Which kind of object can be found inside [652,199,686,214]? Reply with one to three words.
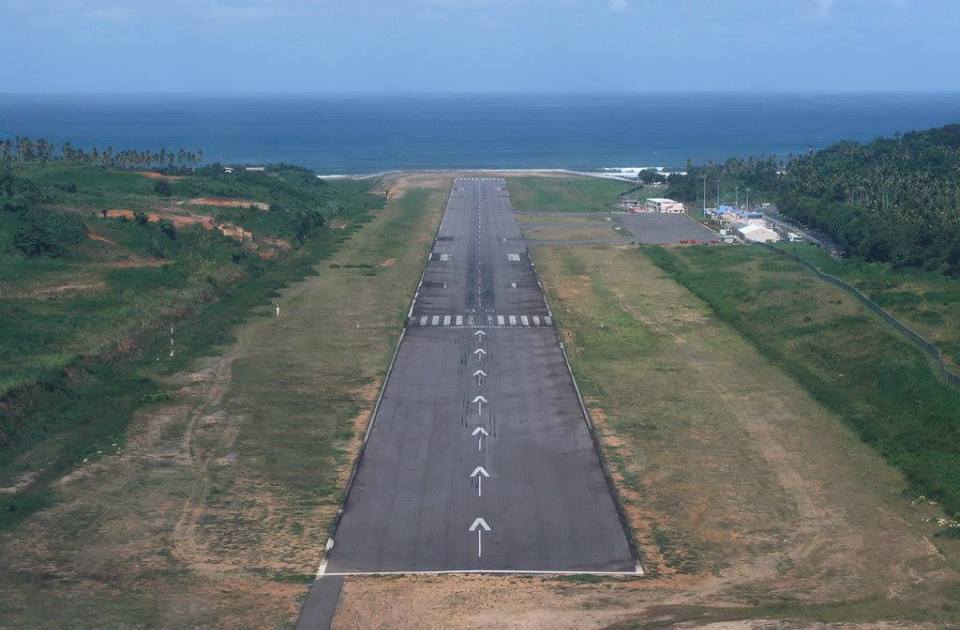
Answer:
building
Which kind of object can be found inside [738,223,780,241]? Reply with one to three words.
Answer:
hangar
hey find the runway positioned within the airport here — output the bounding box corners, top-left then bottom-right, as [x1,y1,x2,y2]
[316,177,643,574]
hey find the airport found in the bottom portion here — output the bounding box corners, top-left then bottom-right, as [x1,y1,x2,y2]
[305,177,722,630]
